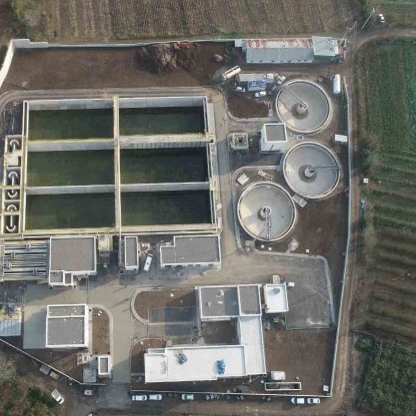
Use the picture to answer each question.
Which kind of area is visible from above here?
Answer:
industrial area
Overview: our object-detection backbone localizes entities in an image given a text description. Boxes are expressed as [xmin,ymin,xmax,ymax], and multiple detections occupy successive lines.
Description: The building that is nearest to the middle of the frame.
[160,236,221,268]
